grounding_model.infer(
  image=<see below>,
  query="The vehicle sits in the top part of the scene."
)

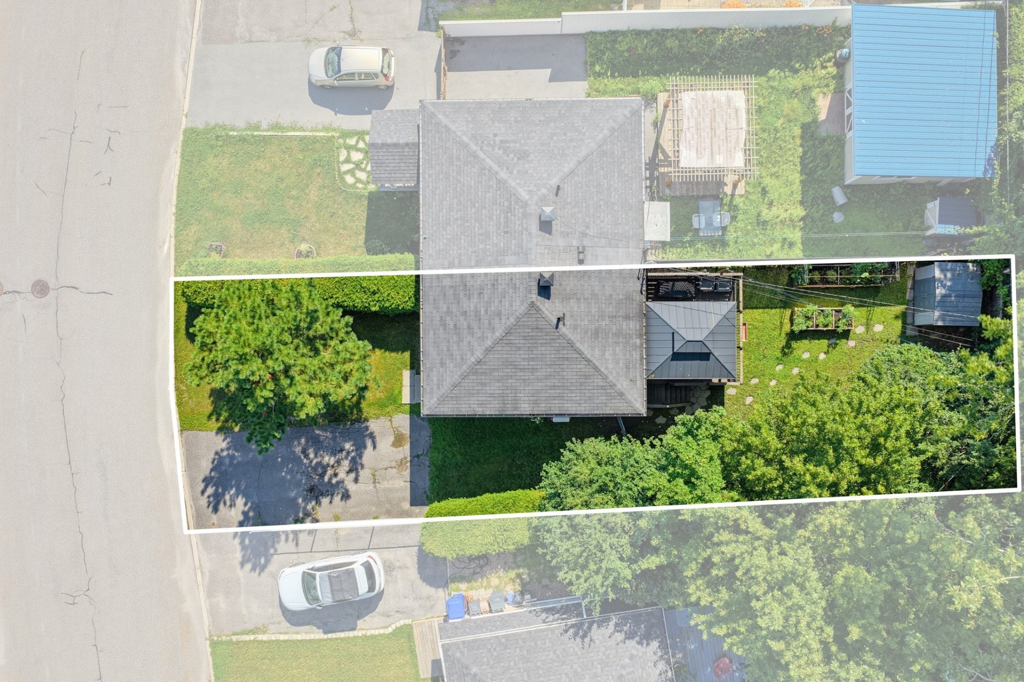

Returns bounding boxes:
[307,40,396,90]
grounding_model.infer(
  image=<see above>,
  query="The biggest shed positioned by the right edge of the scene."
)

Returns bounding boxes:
[843,4,997,185]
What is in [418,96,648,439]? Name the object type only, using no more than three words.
house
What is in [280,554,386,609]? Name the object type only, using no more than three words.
car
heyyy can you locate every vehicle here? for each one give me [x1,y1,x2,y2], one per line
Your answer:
[307,40,396,90]
[280,554,386,609]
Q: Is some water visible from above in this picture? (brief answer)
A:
No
